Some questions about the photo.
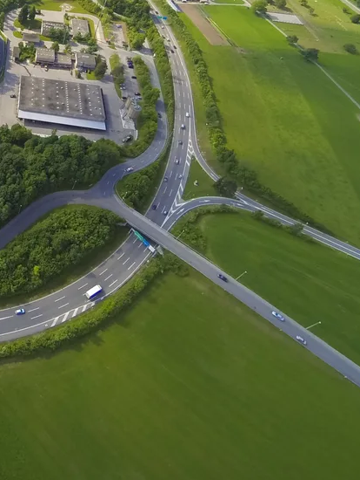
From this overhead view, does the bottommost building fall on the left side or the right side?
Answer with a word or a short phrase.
left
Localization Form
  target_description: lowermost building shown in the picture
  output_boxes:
[17,76,105,135]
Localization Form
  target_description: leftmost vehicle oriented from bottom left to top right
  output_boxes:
[86,284,103,299]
